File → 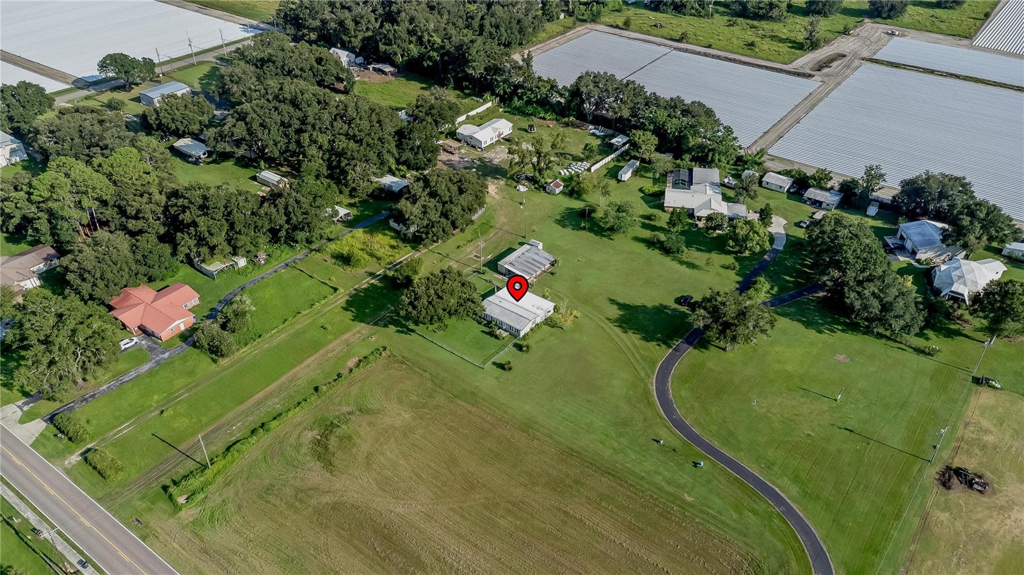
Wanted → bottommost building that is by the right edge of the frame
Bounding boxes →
[925,253,1015,304]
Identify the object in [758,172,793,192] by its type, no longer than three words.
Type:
shed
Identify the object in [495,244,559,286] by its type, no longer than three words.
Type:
barn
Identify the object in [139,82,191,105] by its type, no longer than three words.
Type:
building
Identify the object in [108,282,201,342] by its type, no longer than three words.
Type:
house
